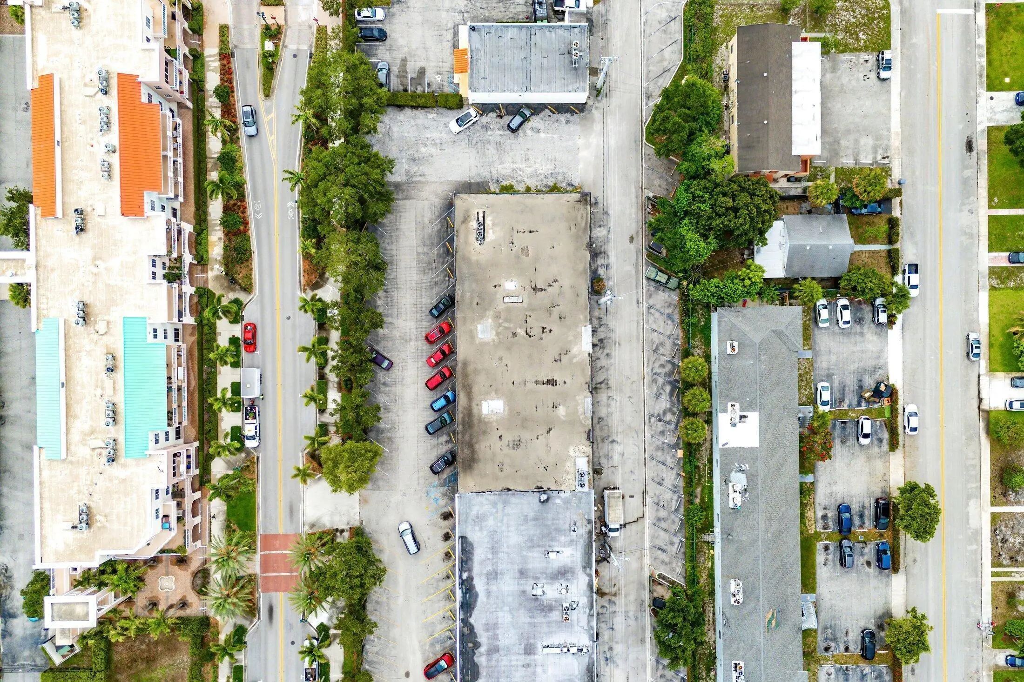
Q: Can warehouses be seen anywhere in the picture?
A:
Yes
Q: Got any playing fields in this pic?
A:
No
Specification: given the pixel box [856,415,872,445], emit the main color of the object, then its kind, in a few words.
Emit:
white car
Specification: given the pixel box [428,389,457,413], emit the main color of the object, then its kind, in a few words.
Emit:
blue car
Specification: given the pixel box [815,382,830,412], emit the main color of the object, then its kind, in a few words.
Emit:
white car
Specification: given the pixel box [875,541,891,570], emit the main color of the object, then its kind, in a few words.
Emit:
blue car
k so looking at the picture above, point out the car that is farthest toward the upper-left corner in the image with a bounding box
[241,104,258,137]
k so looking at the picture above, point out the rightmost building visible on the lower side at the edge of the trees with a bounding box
[709,305,817,682]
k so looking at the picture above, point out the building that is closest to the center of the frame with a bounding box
[454,192,592,493]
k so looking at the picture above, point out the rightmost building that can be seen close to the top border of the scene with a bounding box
[727,22,822,187]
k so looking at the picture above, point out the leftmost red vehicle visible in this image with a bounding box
[242,322,258,352]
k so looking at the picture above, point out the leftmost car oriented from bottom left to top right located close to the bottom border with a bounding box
[425,652,453,680]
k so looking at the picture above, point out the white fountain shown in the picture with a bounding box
[158,576,174,592]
